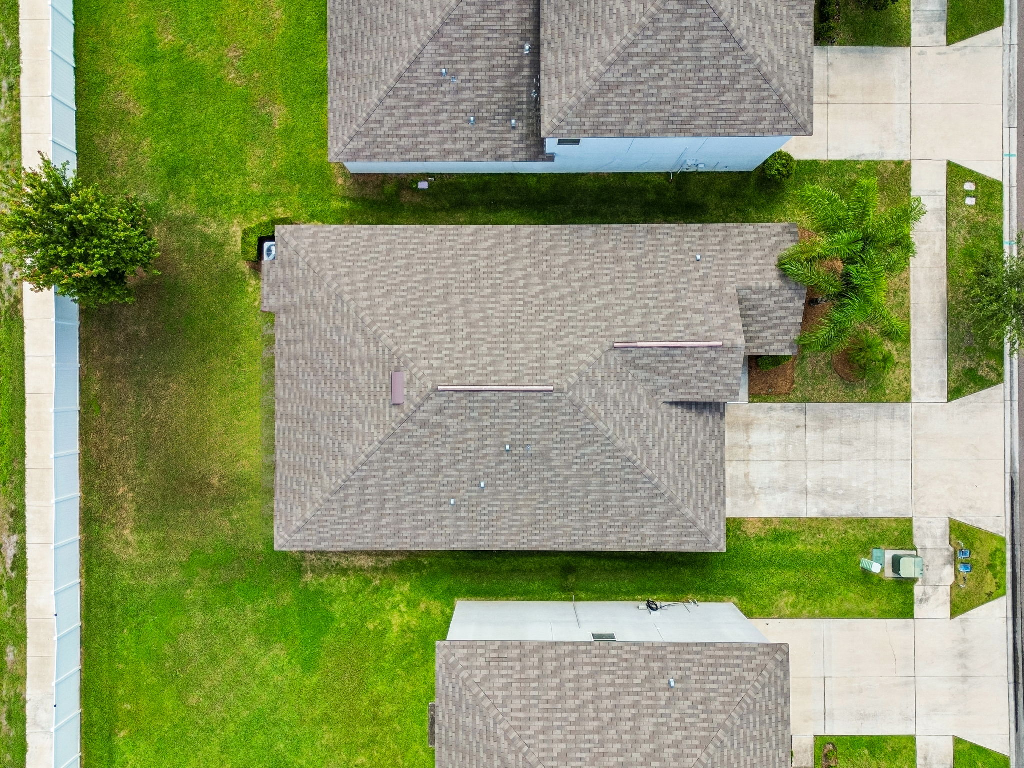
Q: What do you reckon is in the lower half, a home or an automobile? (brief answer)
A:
home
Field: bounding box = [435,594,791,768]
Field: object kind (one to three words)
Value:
house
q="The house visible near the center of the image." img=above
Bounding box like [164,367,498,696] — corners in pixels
[261,224,808,552]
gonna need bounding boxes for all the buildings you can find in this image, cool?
[261,224,808,552]
[435,594,791,768]
[328,0,821,185]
